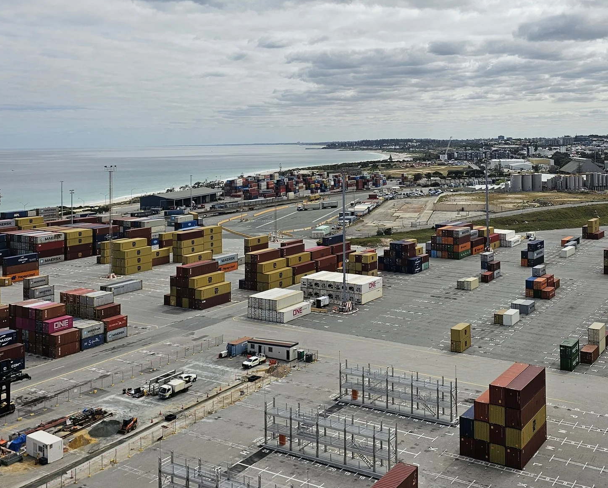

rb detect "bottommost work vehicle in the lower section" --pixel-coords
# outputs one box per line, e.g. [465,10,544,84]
[114,415,137,436]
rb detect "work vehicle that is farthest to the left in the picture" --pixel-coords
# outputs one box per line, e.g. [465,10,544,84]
[0,357,36,414]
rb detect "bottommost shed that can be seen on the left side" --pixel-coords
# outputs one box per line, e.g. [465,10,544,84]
[23,431,63,462]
